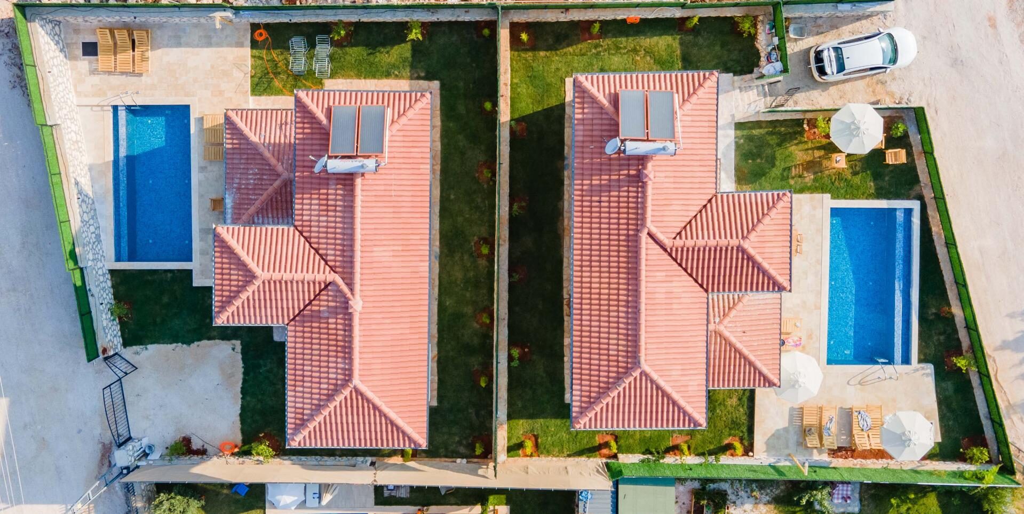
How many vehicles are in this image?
1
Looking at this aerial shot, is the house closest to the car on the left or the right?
right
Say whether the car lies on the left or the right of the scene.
right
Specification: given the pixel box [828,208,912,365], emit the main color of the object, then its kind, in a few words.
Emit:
blue swimming pool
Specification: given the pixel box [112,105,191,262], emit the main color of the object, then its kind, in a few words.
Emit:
blue swimming pool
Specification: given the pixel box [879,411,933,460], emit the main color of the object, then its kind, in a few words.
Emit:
white umbrella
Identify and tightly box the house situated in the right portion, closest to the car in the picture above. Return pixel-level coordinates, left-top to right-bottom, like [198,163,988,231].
[569,69,796,433]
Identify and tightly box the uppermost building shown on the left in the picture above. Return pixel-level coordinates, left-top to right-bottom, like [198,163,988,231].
[209,87,432,452]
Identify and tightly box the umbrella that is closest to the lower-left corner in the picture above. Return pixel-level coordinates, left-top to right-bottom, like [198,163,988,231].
[266,483,303,514]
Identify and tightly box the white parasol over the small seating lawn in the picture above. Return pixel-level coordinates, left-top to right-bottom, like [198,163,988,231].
[832,103,882,153]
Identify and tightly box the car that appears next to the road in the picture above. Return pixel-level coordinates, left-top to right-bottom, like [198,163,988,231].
[809,24,915,79]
